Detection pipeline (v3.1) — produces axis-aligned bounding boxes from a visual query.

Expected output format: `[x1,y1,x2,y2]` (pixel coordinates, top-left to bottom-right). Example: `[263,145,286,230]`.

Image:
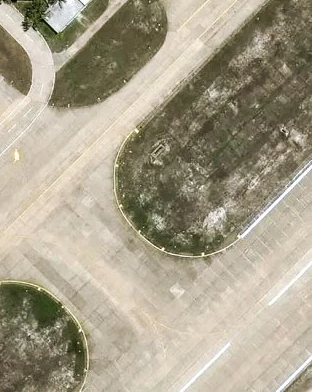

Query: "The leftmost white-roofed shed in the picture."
[41,0,85,32]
